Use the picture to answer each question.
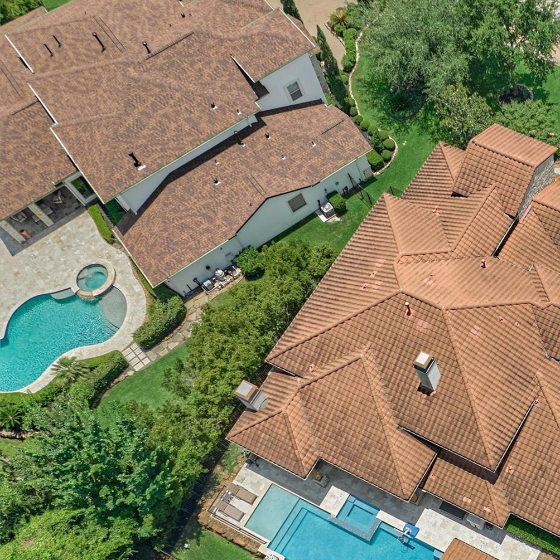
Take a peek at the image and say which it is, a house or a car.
house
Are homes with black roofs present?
No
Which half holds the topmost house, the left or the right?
left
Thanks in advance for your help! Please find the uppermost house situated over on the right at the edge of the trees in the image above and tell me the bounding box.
[222,122,560,538]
